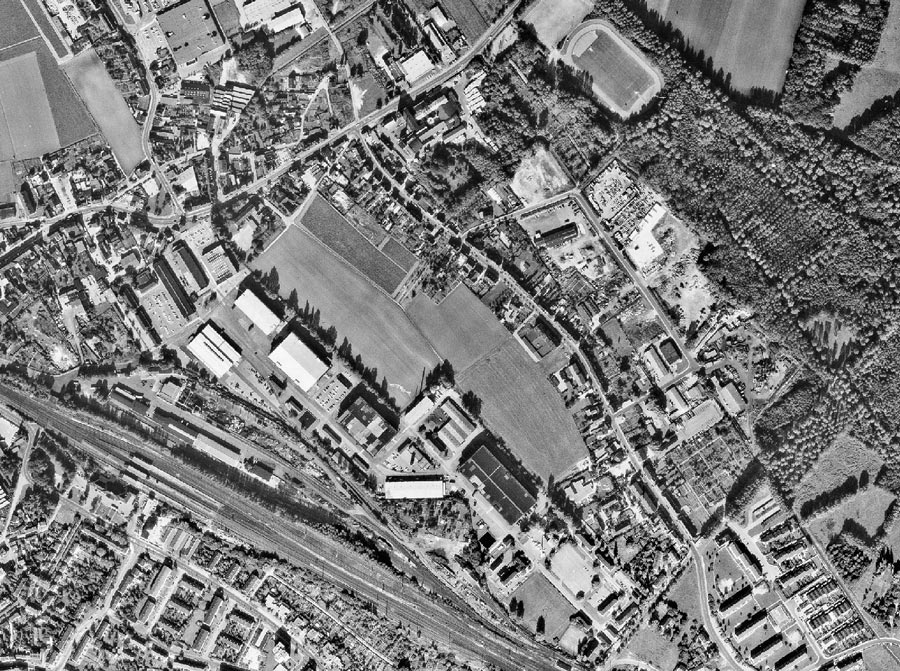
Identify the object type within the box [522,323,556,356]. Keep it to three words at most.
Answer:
greenhouse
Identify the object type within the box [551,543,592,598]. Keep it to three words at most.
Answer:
sports field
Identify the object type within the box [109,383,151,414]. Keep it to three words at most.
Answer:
shed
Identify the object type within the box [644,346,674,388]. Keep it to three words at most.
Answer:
building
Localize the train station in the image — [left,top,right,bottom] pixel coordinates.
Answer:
[80,443,212,516]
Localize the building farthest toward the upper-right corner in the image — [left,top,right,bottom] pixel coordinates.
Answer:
[644,203,667,233]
